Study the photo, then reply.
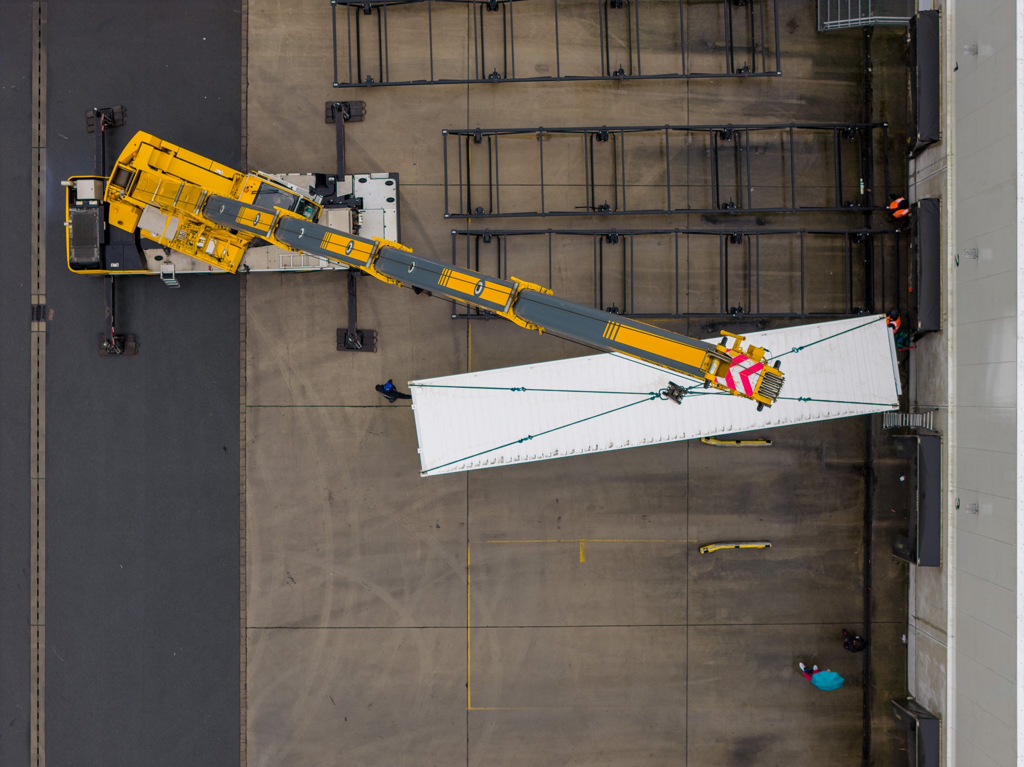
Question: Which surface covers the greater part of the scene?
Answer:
paved ground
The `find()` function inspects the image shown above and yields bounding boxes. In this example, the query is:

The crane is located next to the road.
[60,101,790,412]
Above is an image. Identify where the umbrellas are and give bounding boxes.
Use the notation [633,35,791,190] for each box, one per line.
[810,665,845,692]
